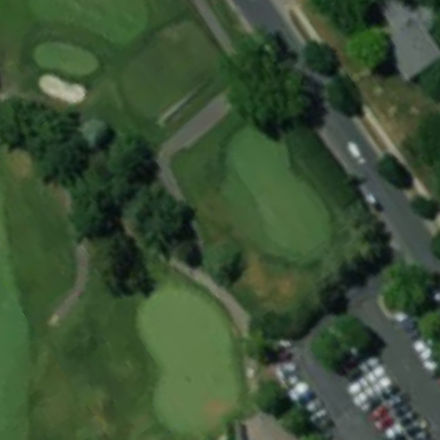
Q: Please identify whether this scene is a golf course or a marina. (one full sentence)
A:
This image shows a golf course.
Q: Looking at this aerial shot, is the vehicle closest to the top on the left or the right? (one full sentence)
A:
It is on the right.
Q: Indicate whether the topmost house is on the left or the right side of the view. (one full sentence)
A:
The topmost house appears in the right half of the scene.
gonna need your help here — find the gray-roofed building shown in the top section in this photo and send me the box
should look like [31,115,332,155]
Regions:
[380,0,440,80]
